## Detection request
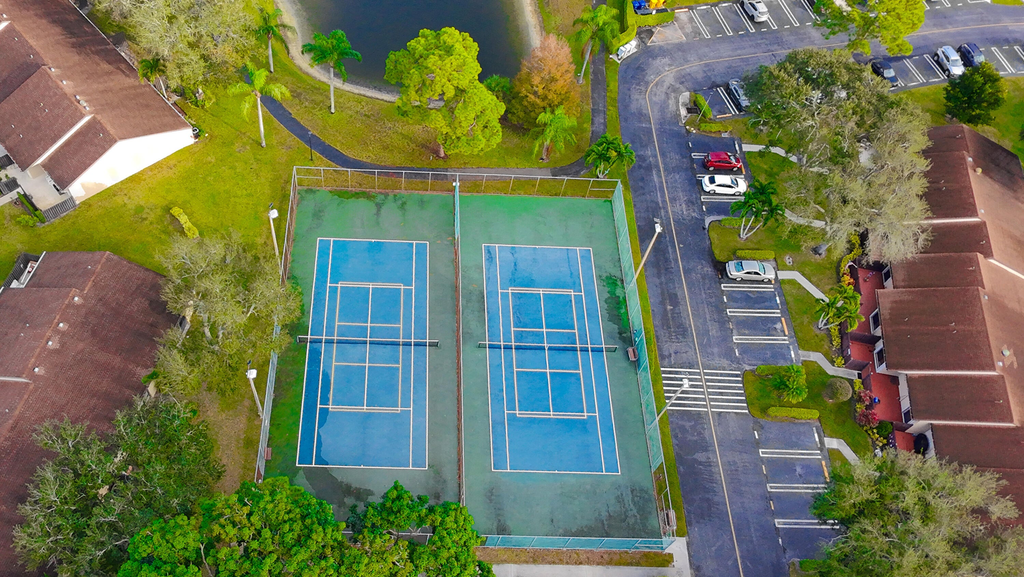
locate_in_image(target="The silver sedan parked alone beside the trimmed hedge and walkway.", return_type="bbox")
[728,259,777,281]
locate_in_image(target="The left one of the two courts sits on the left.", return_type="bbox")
[265,190,460,543]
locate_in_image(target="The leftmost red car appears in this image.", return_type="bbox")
[704,151,743,171]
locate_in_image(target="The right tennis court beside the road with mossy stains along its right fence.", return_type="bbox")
[460,198,660,541]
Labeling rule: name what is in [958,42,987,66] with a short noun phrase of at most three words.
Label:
car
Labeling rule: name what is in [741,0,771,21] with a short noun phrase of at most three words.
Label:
car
